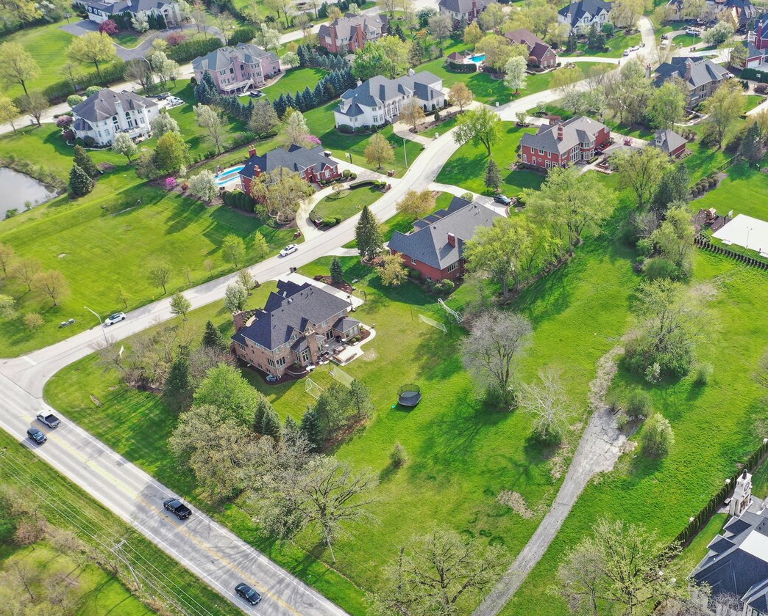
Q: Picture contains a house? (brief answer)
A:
Yes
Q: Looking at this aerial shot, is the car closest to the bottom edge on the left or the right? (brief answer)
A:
left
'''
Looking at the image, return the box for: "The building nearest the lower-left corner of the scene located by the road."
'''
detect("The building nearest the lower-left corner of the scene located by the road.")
[230,278,361,378]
